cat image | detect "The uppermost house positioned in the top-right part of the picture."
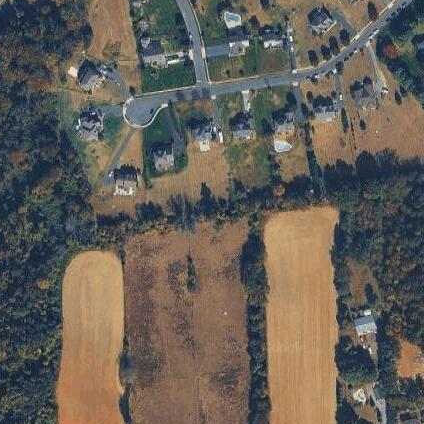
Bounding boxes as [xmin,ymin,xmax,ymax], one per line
[309,10,334,32]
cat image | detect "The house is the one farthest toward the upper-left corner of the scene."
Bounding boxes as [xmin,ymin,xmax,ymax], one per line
[74,61,106,93]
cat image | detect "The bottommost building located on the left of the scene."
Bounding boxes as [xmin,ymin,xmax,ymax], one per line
[113,170,136,192]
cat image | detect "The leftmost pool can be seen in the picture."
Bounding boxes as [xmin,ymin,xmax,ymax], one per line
[224,11,242,27]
